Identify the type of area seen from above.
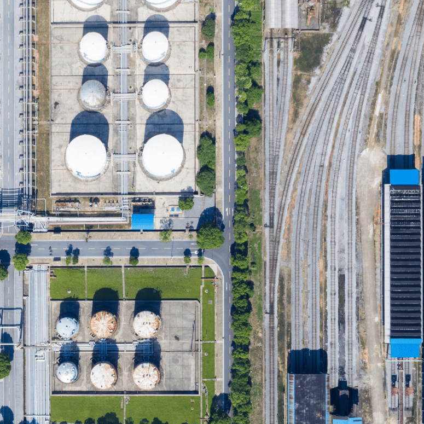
industrial area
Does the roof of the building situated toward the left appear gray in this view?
No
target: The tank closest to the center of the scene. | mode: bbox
[140,134,184,179]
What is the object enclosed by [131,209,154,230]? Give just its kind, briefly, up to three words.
building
